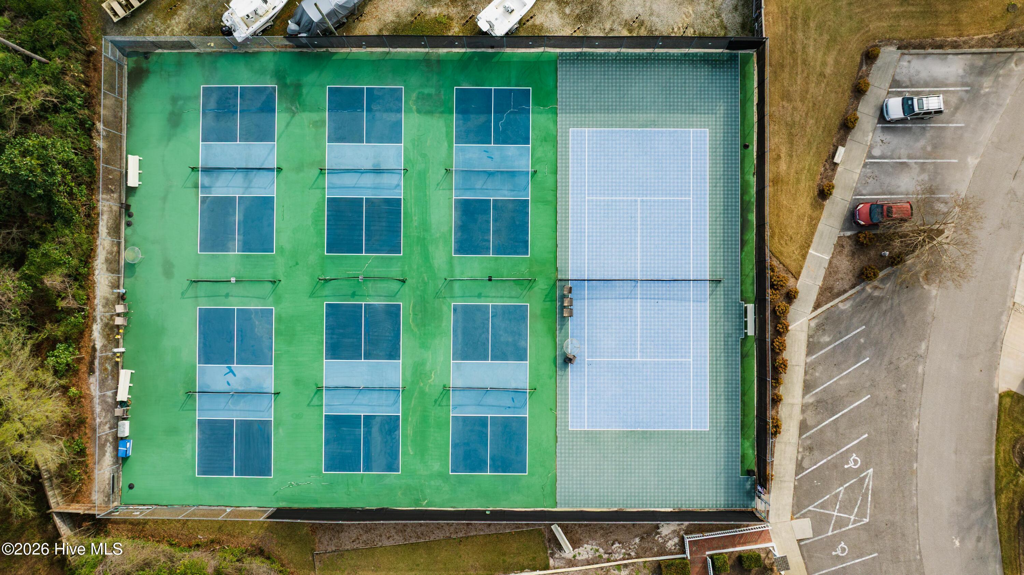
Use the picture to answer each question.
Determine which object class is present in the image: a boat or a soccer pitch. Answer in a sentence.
There is a boat in the scene.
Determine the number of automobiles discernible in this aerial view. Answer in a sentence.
There are 2 automobiles in the image.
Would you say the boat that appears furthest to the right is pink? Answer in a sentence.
No, the boat that appears furthest to the right is white.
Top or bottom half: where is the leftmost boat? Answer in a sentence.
The top half of the photo is where the leftmost boat is.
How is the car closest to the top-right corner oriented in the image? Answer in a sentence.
In this picture, the car closest to the top-right corner lies from left to right.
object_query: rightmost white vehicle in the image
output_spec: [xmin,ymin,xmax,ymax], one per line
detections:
[878,92,943,122]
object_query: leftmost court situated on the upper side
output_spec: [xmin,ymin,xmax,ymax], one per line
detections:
[198,85,277,253]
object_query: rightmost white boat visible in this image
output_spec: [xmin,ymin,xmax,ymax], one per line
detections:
[480,0,540,36]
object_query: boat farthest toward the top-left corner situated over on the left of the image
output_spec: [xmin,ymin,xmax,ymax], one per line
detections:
[102,0,149,24]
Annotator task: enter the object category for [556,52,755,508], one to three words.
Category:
tennis court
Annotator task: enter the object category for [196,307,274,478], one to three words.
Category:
sports court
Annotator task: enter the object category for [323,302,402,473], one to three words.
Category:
sports court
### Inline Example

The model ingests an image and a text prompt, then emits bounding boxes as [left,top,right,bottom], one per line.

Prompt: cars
[878,92,943,122]
[851,197,915,227]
